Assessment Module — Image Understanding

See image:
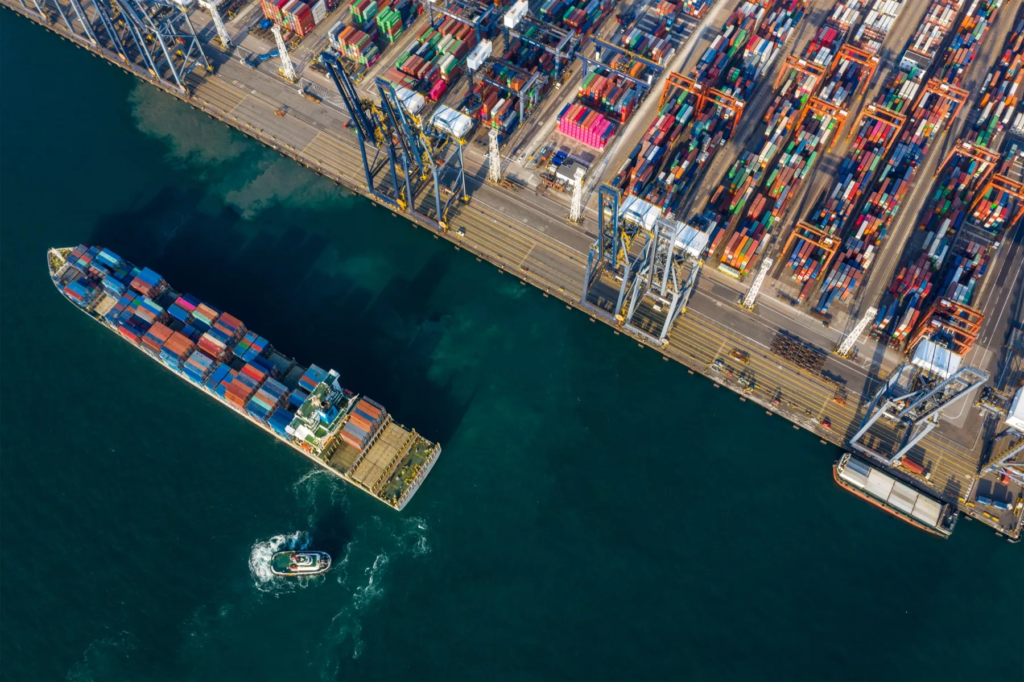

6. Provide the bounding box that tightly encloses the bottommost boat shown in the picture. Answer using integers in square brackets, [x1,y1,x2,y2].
[270,549,332,575]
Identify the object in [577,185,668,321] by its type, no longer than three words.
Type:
container crane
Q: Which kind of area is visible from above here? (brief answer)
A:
port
